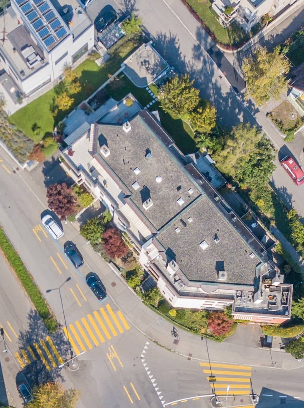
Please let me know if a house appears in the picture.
Yes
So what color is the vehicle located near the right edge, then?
red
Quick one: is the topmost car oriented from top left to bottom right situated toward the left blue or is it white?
white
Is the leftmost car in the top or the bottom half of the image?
bottom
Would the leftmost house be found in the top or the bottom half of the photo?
top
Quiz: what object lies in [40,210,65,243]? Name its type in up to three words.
car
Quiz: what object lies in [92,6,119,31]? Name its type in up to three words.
car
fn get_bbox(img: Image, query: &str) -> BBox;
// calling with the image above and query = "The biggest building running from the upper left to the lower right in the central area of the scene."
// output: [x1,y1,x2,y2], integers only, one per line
[59,107,294,322]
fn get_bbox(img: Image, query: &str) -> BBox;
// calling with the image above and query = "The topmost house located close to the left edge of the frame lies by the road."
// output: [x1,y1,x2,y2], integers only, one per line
[0,0,92,96]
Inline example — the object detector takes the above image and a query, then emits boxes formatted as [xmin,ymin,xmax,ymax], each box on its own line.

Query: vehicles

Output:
[16,379,37,406]
[84,270,109,303]
[92,6,119,31]
[40,210,65,243]
[62,239,84,269]
[277,155,304,187]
